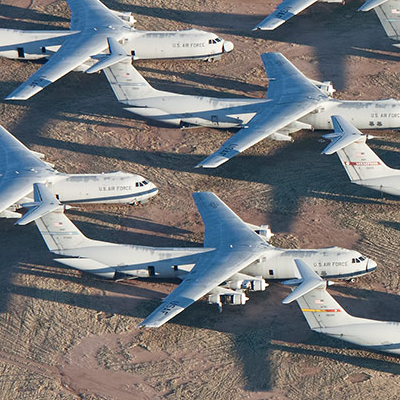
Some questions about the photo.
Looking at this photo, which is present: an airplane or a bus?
airplane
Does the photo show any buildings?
No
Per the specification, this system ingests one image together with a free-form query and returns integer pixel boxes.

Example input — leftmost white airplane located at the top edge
[0,0,233,102]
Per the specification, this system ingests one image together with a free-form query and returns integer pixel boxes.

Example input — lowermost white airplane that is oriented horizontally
[17,184,377,328]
